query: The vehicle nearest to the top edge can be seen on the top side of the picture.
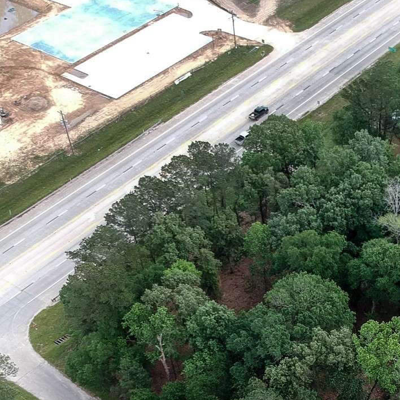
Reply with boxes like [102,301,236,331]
[247,106,269,120]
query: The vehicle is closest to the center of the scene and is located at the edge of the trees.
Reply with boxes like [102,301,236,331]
[234,130,254,145]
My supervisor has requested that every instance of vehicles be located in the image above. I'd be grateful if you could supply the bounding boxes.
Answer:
[247,106,269,120]
[234,130,254,145]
